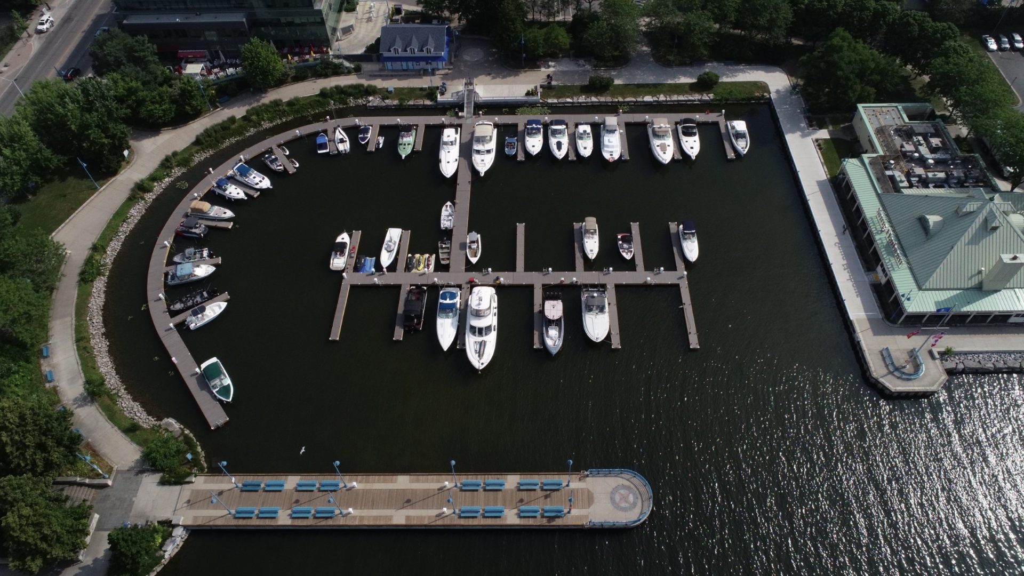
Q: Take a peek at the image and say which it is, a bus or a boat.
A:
boat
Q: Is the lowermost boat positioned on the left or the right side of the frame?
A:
left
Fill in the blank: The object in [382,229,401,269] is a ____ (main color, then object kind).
white boat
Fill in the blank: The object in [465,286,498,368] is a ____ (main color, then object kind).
white boat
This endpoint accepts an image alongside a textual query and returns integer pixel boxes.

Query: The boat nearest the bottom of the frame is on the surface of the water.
[199,355,232,401]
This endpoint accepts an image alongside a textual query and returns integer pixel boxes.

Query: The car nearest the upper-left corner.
[36,7,53,29]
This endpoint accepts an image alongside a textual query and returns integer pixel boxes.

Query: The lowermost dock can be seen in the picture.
[183,469,650,530]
